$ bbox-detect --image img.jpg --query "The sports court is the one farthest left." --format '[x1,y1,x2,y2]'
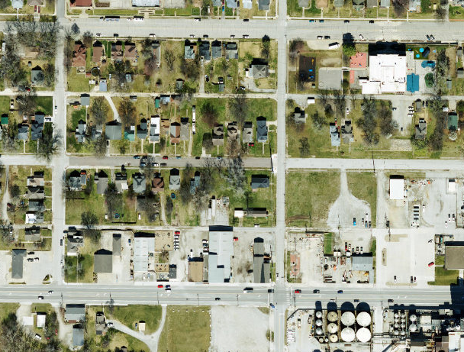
[318,67,342,89]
